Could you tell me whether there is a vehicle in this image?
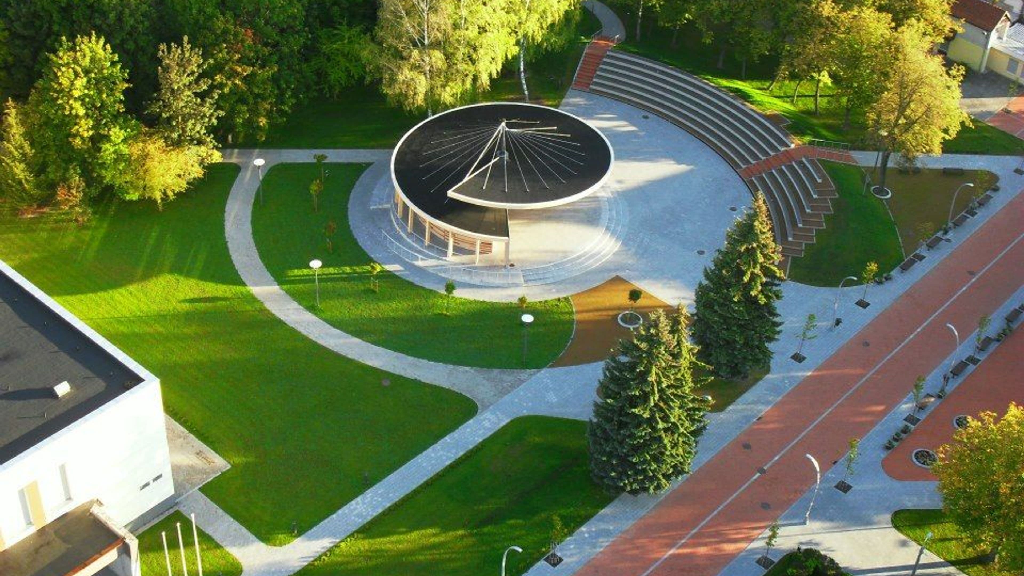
No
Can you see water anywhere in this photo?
No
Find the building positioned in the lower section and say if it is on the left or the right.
left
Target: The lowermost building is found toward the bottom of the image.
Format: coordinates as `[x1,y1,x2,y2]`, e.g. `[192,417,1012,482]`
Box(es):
[0,262,179,559]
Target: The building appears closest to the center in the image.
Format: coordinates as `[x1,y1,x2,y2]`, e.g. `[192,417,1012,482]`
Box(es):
[390,102,615,267]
